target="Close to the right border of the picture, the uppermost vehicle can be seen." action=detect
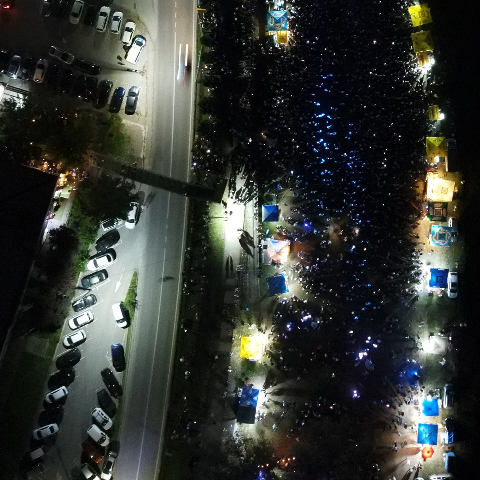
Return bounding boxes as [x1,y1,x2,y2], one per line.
[445,138,460,170]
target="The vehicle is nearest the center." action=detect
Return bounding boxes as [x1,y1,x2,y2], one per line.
[259,239,272,266]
